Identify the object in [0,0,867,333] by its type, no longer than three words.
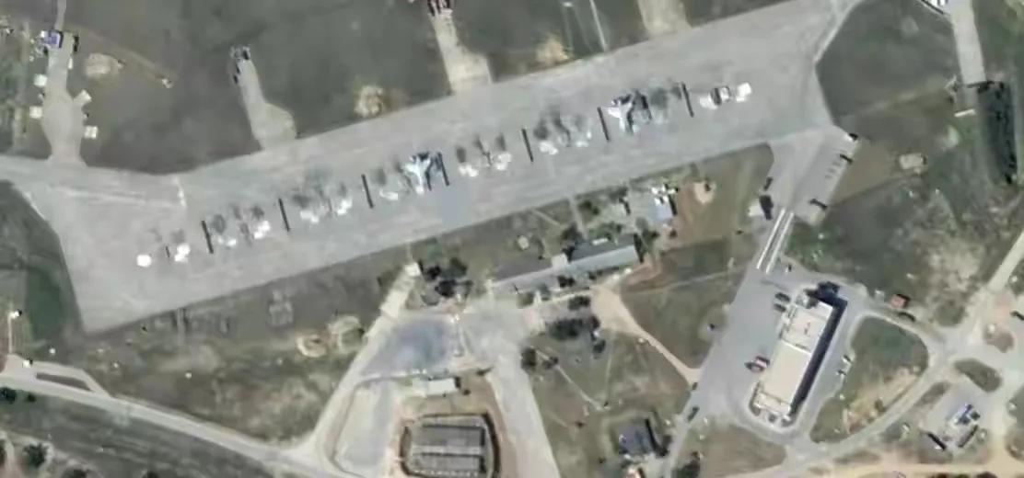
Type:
airport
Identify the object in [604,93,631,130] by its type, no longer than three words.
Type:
airplane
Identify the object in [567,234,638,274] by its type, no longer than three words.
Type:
house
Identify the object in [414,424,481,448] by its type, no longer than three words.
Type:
shed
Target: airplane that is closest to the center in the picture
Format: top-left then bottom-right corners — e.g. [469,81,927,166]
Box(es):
[403,153,429,190]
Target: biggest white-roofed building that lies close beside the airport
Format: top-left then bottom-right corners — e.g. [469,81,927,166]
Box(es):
[752,289,834,417]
